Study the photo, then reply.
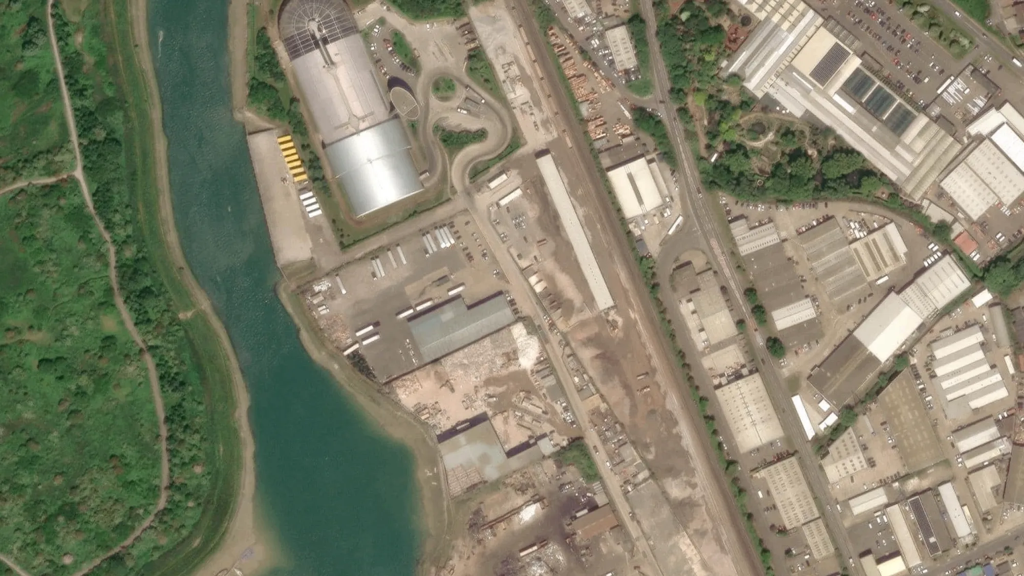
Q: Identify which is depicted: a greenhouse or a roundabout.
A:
greenhouse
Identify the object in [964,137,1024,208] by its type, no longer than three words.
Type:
shed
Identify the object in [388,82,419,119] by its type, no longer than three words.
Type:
building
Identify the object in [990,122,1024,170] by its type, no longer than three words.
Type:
shed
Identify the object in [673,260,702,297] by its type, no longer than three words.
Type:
building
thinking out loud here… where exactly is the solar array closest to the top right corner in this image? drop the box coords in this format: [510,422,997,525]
[807,41,848,83]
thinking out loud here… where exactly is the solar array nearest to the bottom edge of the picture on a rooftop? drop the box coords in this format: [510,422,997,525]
[910,500,940,554]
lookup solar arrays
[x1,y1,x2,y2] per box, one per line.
[807,41,848,83]
[910,500,940,554]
